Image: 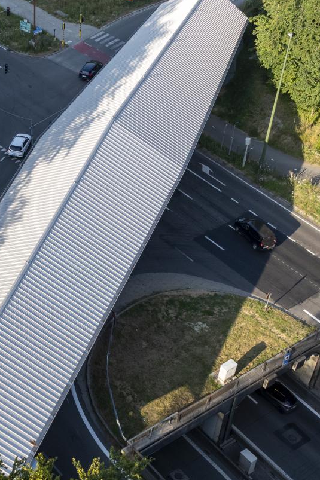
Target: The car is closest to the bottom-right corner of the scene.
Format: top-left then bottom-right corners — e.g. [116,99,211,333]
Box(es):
[254,380,308,422]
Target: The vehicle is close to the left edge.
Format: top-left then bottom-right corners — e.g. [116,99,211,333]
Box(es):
[4,136,33,160]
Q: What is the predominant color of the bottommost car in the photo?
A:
black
